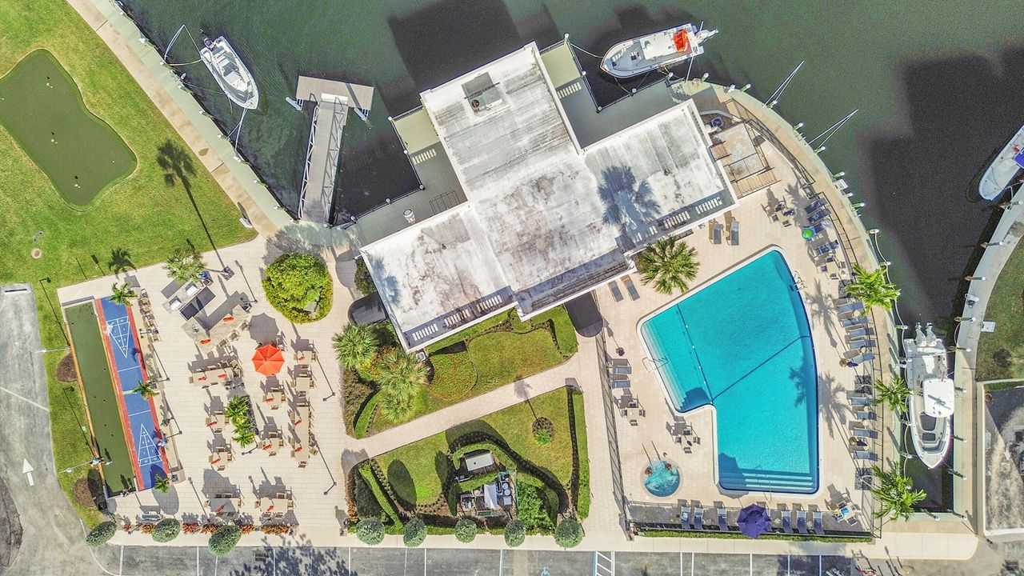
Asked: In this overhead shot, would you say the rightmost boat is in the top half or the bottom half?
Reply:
top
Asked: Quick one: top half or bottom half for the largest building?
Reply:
top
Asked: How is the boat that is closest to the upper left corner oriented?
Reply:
diagonally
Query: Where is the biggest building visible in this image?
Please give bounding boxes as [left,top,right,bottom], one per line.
[359,43,738,353]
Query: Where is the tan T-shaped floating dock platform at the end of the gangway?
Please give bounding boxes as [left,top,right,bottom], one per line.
[286,76,376,121]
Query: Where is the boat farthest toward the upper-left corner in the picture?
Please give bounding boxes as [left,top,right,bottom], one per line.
[200,35,260,109]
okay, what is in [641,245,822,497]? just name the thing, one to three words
swimming pool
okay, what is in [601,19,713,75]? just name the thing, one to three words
boat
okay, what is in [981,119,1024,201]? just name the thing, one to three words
boat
